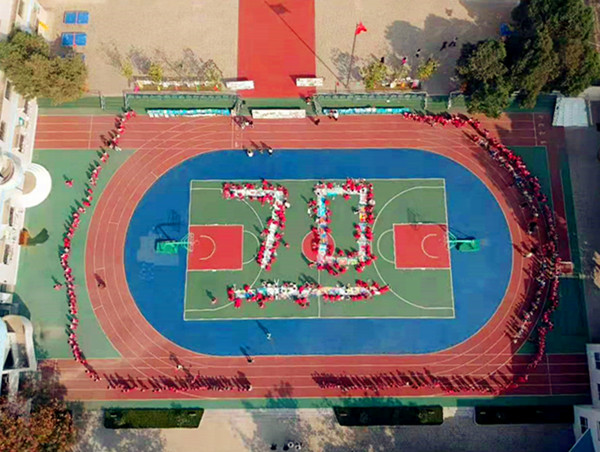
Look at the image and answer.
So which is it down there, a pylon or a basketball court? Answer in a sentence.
I can see a basketball court in this picture.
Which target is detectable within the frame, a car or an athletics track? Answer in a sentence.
The one in the frame is an athletics track.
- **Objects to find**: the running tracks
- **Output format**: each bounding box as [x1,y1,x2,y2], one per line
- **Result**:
[32,111,592,399]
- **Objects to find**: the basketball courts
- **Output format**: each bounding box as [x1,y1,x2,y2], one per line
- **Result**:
[184,178,455,320]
